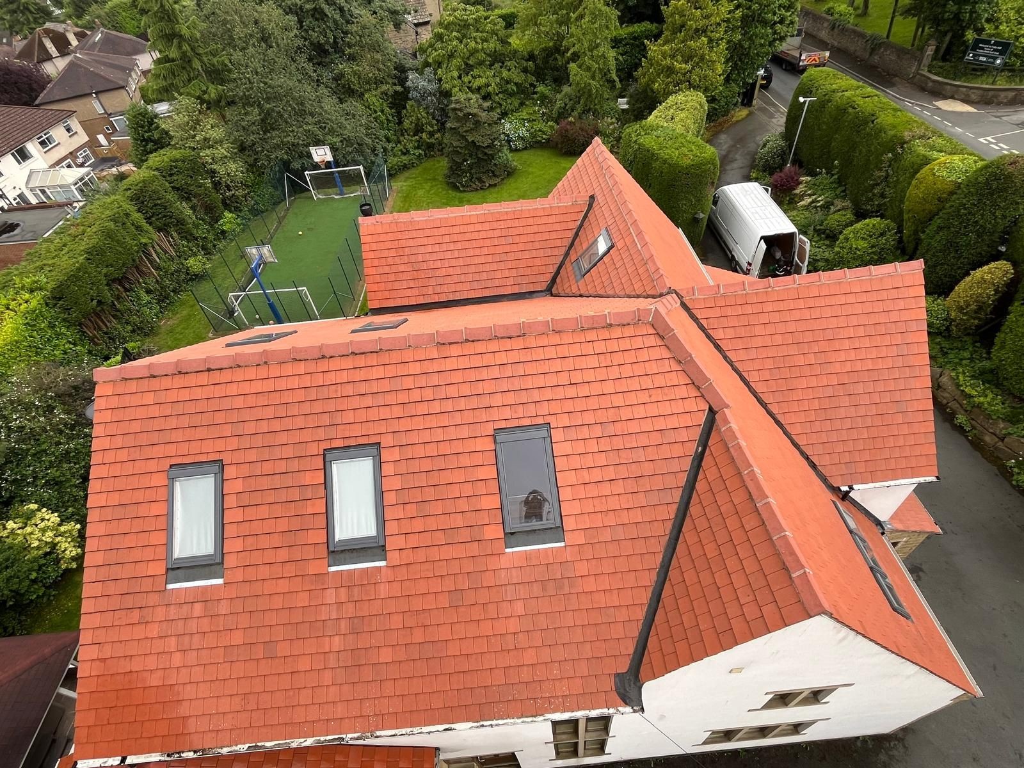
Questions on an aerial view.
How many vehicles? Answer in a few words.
3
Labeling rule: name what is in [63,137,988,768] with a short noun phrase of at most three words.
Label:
house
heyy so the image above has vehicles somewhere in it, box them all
[778,23,829,68]
[743,60,779,84]
[713,183,826,278]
